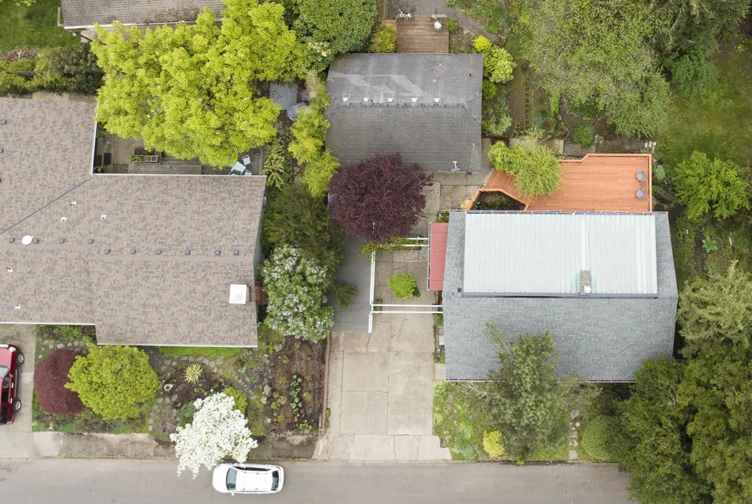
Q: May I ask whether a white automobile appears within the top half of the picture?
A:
No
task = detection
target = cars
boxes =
[0,343,24,424]
[212,462,287,497]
